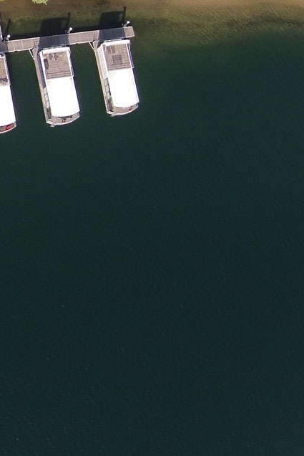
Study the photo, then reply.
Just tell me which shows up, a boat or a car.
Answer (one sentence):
There is a boat in the scene.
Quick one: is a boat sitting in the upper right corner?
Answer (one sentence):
No, no boat can be made out in the upper right corner.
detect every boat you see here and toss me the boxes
[93,40,140,118]
[0,53,16,135]
[33,46,79,128]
